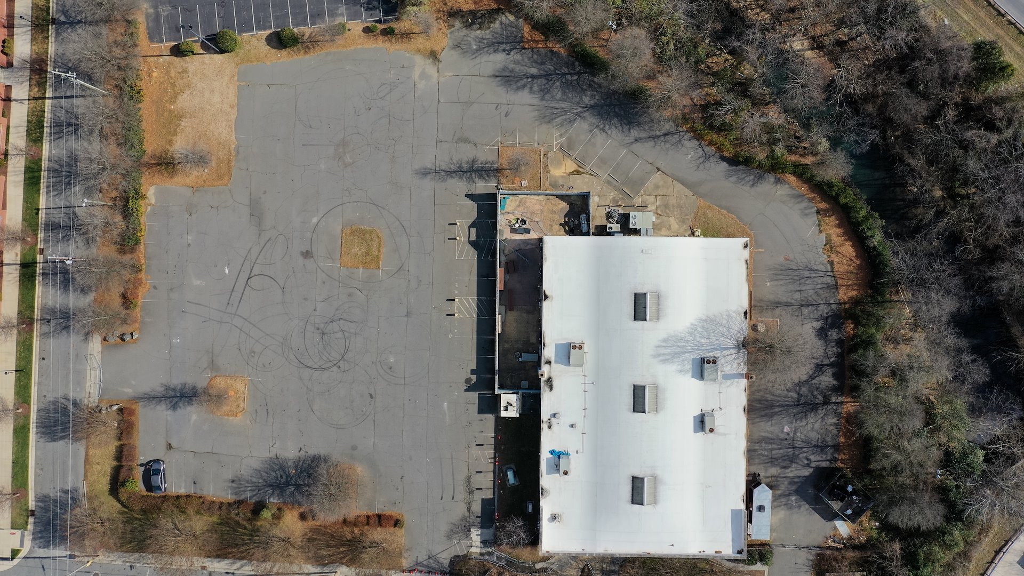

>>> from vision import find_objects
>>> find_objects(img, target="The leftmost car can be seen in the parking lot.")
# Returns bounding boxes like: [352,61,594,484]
[147,460,165,493]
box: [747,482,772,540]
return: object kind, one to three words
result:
shed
